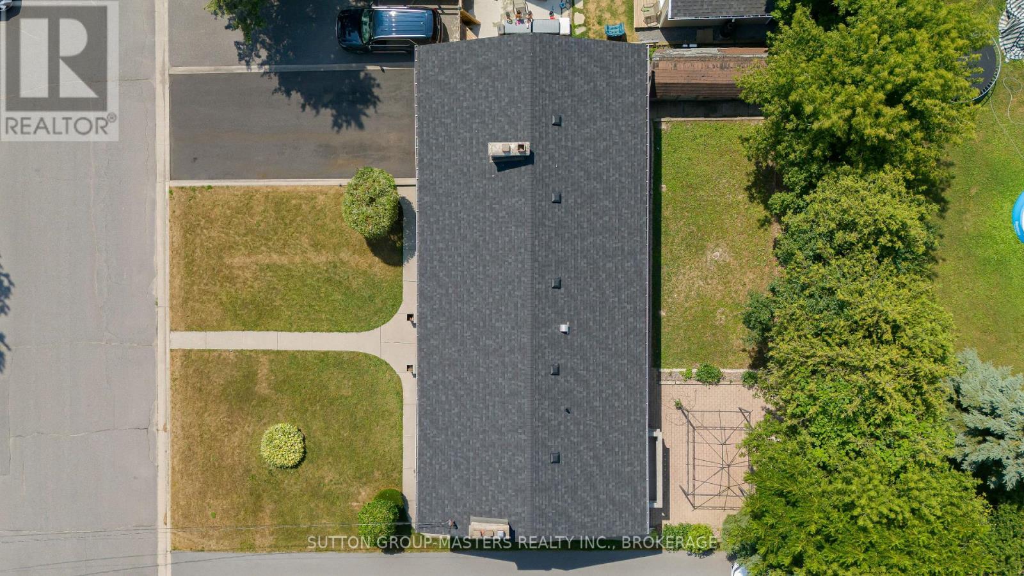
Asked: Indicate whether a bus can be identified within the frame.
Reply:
No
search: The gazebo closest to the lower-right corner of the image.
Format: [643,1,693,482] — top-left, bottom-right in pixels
[677,403,751,497]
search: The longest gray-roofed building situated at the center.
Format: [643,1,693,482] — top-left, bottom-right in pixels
[415,33,648,545]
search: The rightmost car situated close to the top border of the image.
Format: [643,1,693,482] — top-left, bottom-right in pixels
[336,2,442,57]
